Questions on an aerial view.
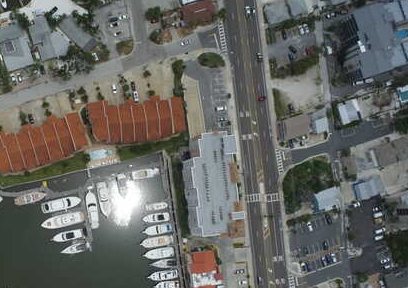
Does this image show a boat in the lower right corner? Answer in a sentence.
No, no boat appears in the lower right corner.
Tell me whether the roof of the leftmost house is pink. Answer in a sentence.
No, the roof of the leftmost house is actually gray.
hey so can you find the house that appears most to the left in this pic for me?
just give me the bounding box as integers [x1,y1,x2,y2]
[0,26,35,71]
